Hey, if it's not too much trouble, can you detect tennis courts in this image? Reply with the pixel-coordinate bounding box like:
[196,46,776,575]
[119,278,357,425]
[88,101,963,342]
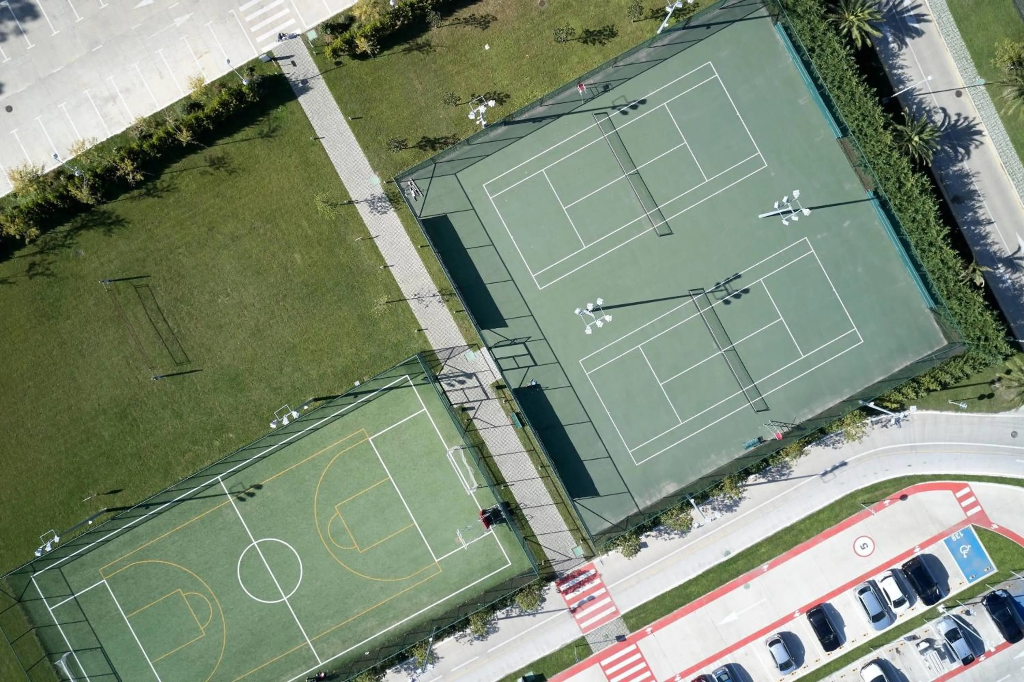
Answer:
[399,0,852,360]
[497,166,949,537]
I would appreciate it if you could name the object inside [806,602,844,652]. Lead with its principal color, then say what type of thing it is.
black car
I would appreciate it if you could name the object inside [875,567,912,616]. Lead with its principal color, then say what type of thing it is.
white car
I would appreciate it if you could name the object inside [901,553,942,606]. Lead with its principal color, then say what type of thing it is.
black car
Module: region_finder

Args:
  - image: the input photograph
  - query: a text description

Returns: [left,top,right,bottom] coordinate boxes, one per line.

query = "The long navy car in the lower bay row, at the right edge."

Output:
[982,590,1024,646]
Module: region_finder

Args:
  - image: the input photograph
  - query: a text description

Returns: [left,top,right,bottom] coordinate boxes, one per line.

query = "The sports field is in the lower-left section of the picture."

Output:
[4,350,537,682]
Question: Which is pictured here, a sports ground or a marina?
sports ground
